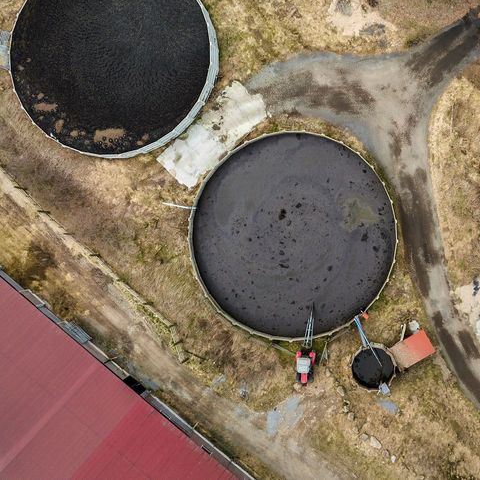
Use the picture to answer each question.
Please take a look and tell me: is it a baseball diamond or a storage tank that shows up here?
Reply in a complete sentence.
The image shows a storage tank.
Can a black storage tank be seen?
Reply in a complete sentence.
Yes, looking at the shot, I can spot a black storage tank.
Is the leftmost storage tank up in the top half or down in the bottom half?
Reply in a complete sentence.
Seen from above, the leftmost storage tank lies in the top half of the view.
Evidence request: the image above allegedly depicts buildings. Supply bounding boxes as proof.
[0,260,264,480]
[390,328,436,369]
